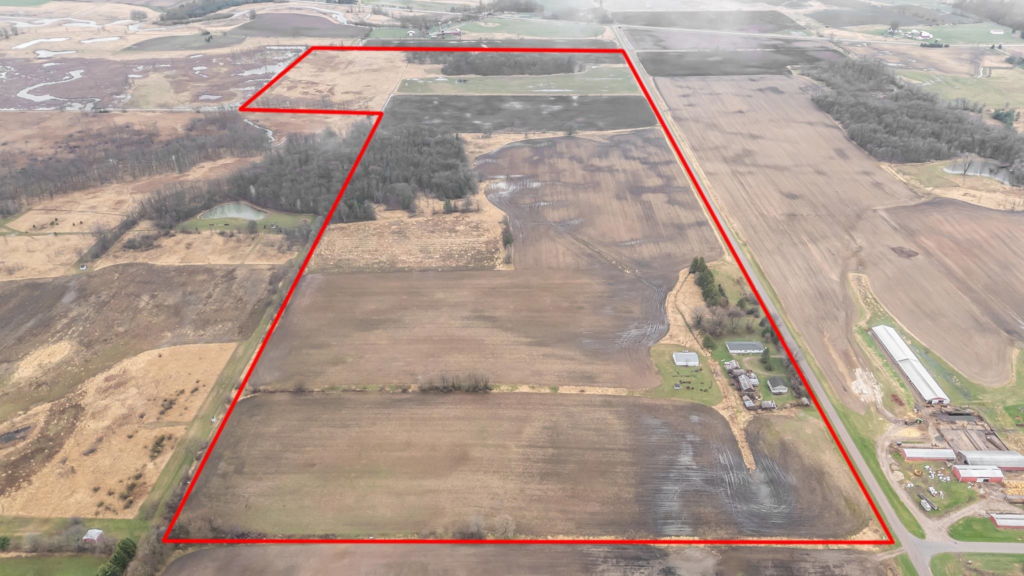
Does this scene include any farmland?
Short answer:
Yes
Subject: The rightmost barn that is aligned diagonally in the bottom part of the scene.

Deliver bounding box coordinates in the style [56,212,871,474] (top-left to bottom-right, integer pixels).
[870,324,950,405]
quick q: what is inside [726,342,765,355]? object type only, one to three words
house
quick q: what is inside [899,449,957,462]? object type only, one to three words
barn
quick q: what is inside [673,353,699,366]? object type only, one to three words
shed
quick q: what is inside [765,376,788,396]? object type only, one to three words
house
